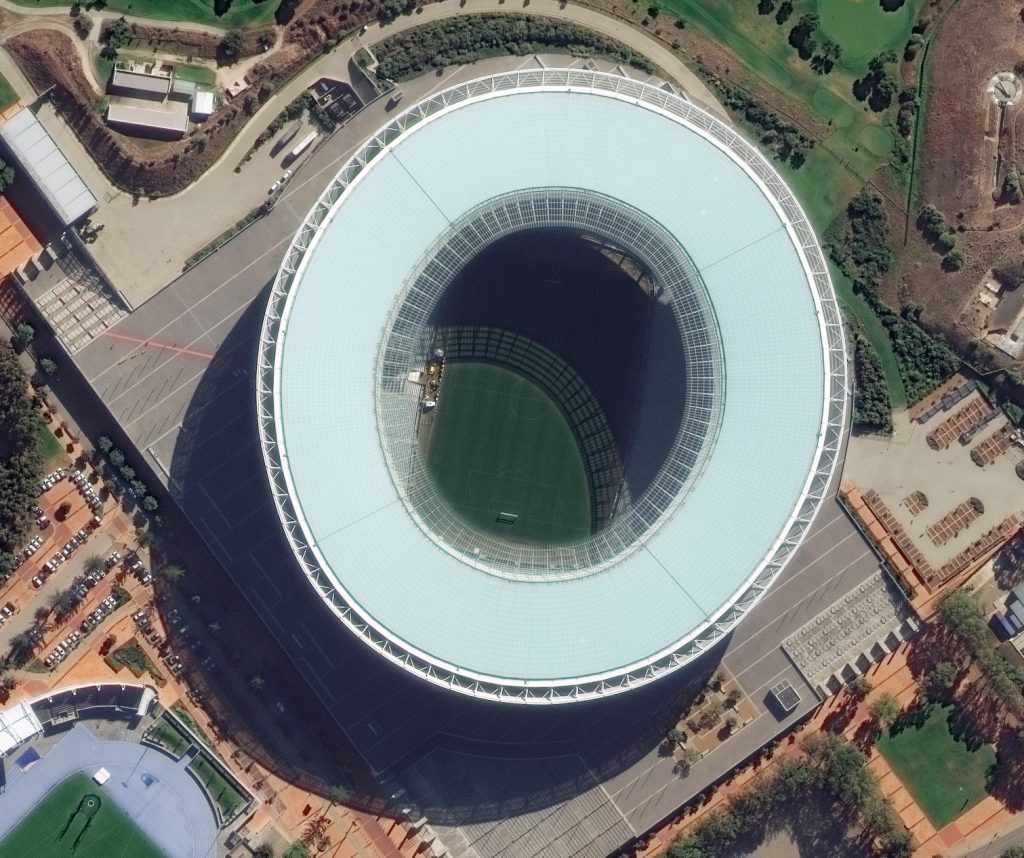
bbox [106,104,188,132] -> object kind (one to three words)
house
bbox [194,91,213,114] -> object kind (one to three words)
house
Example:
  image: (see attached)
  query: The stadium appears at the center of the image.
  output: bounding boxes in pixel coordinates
[255,66,852,706]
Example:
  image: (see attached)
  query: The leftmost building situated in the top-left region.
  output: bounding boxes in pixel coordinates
[0,106,97,228]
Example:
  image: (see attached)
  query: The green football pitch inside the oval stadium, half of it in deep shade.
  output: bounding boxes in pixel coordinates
[424,257,634,542]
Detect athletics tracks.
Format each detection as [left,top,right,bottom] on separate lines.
[0,724,218,858]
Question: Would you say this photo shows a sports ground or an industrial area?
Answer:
sports ground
